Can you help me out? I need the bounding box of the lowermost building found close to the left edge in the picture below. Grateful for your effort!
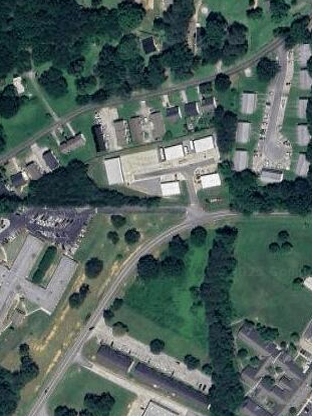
[0,236,79,330]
